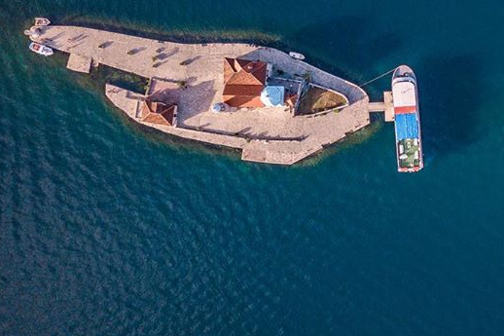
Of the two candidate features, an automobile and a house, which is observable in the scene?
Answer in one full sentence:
It is a house that can be seen here.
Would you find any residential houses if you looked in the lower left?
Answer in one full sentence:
No, no residential house appears in the lower left.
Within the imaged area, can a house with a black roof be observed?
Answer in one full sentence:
No, this view has no house with a black roof in it.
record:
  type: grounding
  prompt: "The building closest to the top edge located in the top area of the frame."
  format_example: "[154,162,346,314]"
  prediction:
[224,59,270,85]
